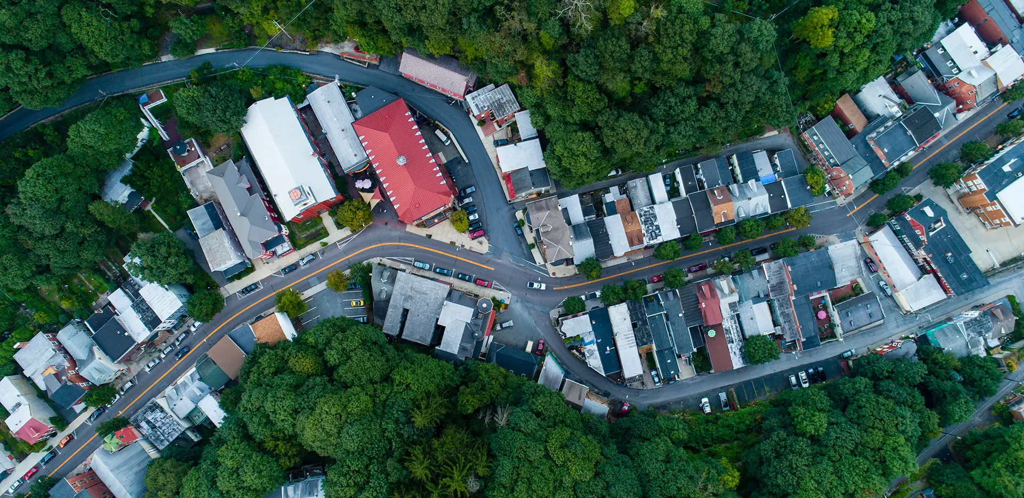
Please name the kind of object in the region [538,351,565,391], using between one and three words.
shed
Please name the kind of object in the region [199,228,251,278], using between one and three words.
house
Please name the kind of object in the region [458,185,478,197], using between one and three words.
vehicle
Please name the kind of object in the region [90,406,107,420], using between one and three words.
car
